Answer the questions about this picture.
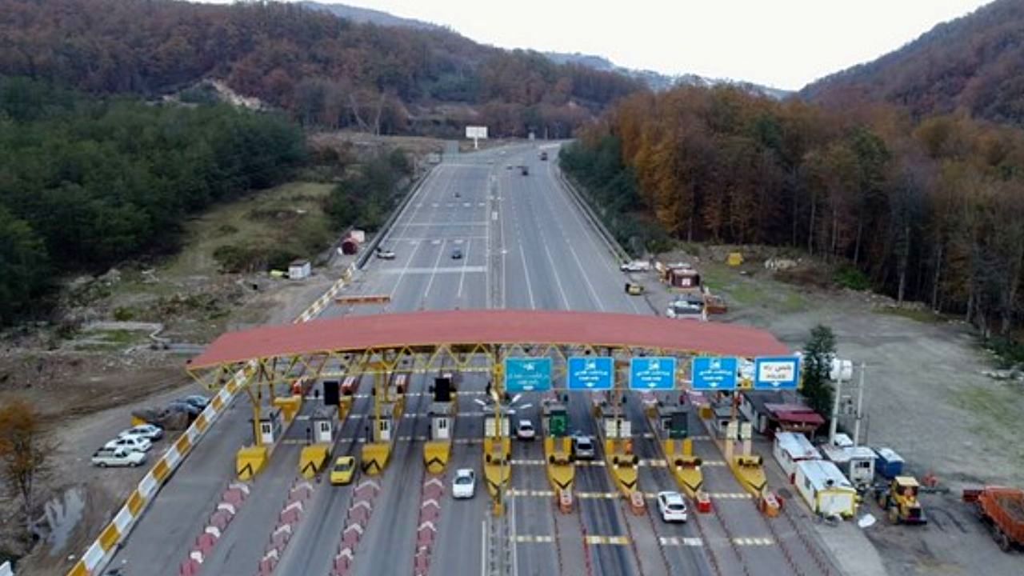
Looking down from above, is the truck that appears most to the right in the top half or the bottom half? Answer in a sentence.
Seen from above, the truck that appears most to the right lies in the bottom half of the view.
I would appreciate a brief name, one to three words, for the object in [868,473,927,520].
work vehicle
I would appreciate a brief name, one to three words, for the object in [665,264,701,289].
building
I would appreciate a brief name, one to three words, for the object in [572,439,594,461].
car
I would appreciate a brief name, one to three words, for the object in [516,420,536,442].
car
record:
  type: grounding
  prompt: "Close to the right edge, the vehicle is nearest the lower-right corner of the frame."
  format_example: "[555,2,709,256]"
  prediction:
[960,487,1024,558]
